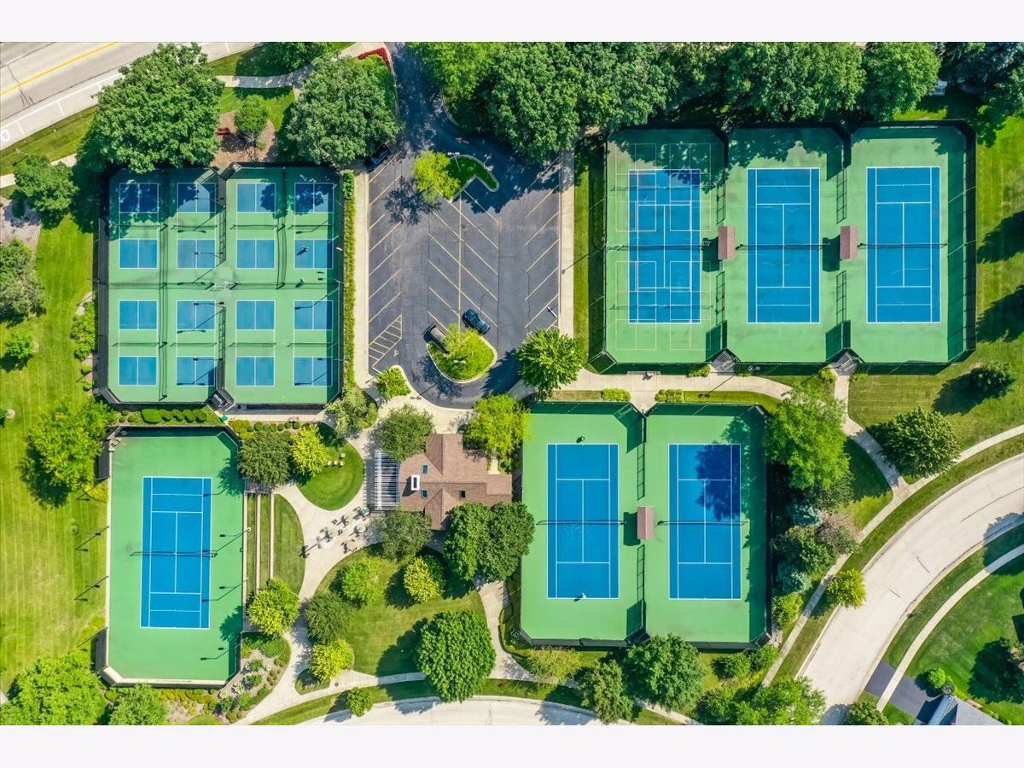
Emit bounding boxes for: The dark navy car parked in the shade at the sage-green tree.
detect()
[363,142,393,171]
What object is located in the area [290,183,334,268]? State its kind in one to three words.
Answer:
sports court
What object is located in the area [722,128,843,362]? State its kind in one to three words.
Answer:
tennis court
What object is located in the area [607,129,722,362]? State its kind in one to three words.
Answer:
tennis court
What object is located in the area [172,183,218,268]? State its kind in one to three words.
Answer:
sports court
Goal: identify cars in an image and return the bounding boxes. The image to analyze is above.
[363,142,393,171]
[421,325,450,351]
[461,308,491,334]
